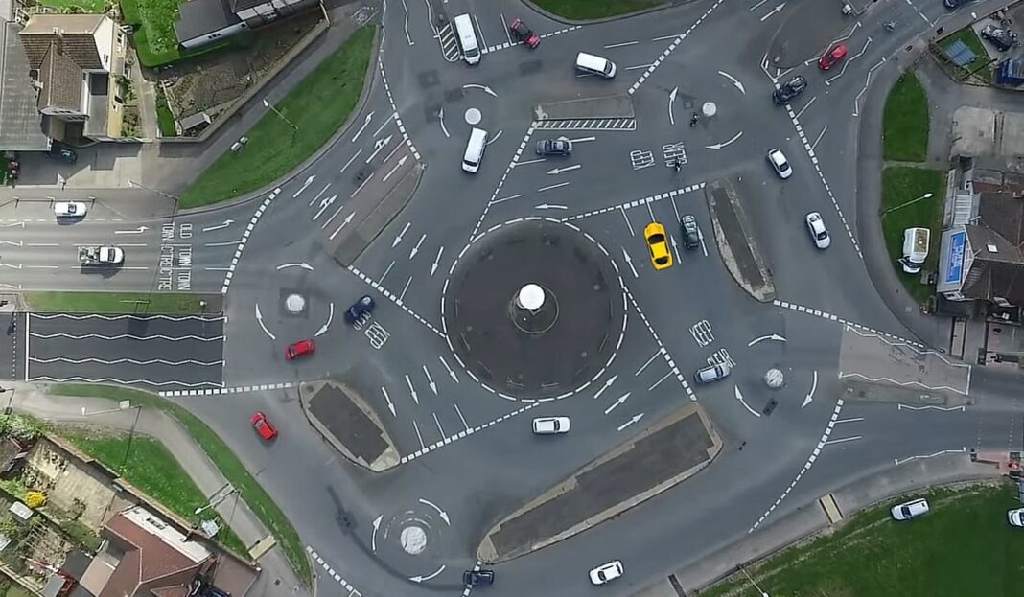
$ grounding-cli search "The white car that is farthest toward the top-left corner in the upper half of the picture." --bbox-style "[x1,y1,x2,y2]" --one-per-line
[54,200,90,217]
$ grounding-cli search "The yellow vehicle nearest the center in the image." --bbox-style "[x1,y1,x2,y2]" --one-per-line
[644,221,674,272]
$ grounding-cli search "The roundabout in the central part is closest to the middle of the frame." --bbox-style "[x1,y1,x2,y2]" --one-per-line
[442,217,628,402]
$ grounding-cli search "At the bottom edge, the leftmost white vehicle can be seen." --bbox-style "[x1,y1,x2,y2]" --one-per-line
[588,560,624,583]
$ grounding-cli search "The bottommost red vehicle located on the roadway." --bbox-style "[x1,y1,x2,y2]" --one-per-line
[252,411,280,442]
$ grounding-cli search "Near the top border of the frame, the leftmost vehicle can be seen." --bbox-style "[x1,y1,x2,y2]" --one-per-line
[455,11,482,69]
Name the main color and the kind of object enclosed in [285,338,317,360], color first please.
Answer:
red car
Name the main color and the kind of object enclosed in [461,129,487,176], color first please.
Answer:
white vehicle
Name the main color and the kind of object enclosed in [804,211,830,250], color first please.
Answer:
white car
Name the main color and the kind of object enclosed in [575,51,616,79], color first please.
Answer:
white van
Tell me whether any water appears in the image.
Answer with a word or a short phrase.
No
